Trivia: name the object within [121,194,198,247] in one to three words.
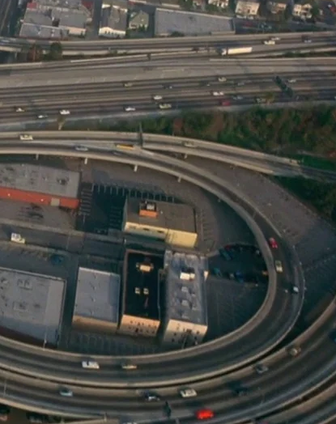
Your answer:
building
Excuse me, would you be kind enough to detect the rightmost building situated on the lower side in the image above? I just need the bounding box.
[160,251,214,345]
